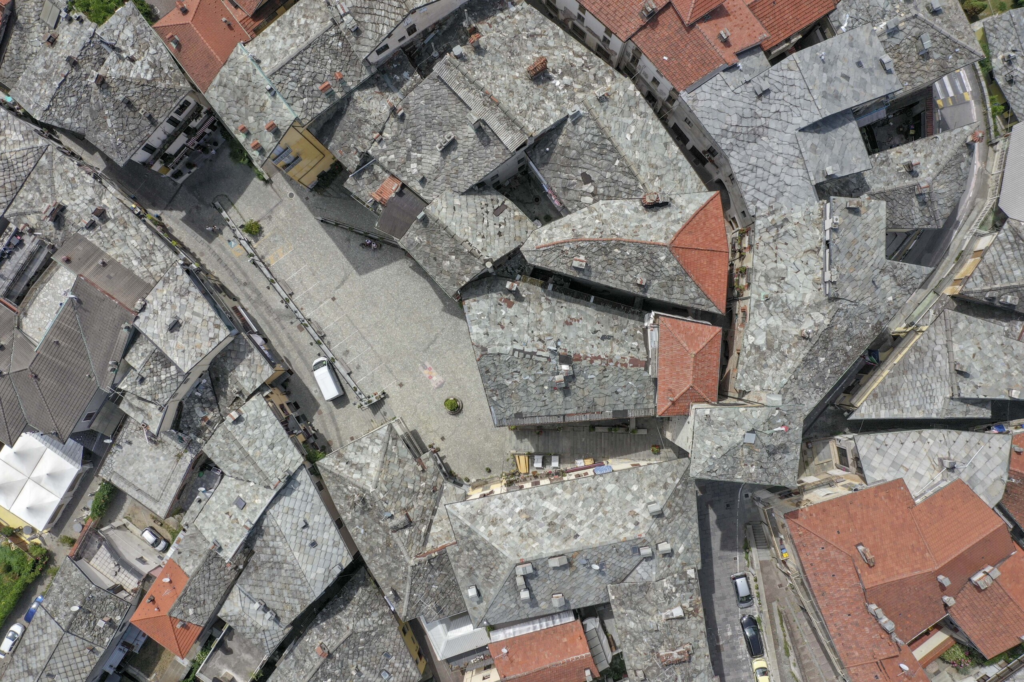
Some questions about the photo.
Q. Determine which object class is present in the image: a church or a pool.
church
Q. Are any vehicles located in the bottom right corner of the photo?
Yes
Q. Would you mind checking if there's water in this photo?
No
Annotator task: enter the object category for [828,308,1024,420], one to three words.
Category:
house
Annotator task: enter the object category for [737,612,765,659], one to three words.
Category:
car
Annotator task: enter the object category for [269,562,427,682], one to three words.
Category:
house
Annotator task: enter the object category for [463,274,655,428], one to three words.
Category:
church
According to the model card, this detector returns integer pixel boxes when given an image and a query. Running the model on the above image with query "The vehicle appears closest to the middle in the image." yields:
[312,353,345,405]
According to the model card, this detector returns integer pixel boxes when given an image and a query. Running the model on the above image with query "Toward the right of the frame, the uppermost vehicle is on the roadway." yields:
[728,570,754,609]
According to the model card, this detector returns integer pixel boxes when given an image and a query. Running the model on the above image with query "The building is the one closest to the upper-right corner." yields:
[974,6,1024,130]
